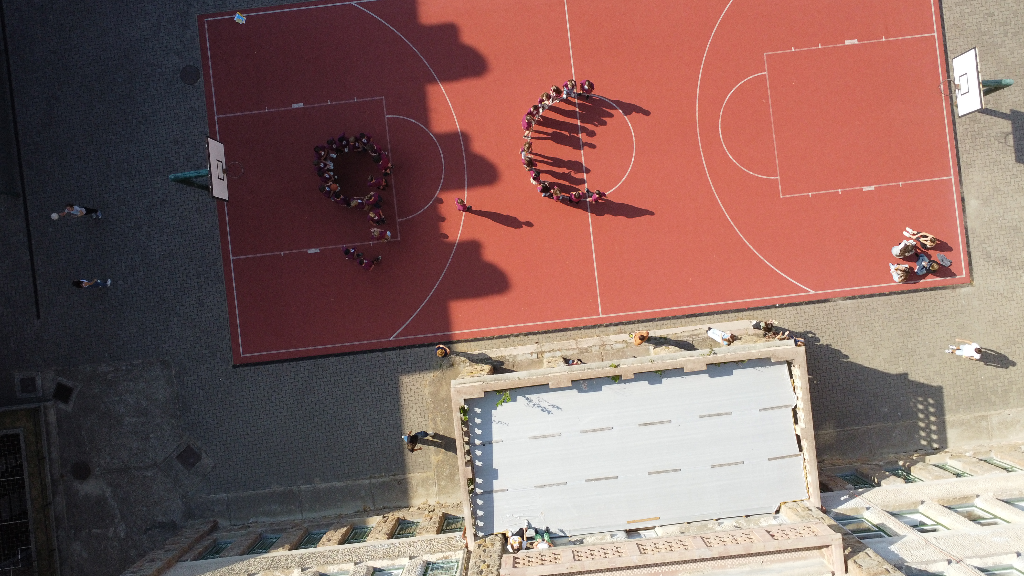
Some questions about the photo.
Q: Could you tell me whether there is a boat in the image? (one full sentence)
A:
No, no boat can be seen from above.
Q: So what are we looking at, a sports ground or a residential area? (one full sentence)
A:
What you see here is a sports ground.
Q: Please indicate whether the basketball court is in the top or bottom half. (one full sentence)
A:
The basketball court sits in the top half of the picture.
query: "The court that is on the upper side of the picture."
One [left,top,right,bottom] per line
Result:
[197,0,970,364]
